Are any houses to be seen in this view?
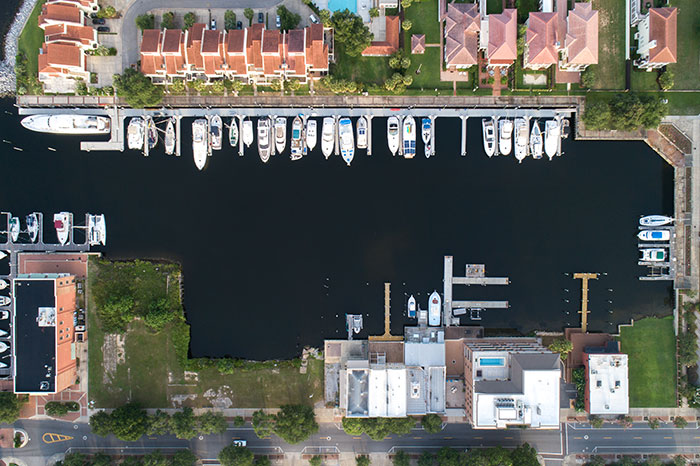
Yes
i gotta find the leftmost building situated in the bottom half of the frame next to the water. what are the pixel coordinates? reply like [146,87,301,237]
[12,270,77,396]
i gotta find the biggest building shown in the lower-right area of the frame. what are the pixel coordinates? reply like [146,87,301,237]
[465,342,561,428]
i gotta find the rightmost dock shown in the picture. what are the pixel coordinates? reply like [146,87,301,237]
[636,226,673,282]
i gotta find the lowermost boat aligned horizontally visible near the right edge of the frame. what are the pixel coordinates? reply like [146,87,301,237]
[638,248,667,261]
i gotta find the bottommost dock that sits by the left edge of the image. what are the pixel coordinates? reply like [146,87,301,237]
[0,212,92,279]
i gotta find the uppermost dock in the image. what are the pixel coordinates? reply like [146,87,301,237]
[19,103,577,156]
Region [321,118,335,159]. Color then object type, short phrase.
white boat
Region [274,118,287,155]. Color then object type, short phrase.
white boat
